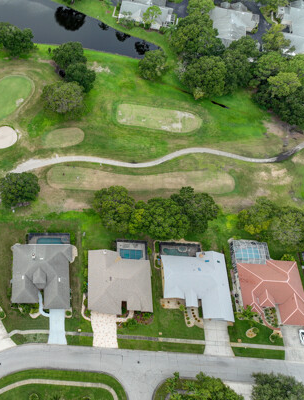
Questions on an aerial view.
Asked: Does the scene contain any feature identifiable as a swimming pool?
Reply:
Yes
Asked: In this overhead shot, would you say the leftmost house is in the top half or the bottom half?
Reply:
bottom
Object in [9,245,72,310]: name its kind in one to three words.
house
